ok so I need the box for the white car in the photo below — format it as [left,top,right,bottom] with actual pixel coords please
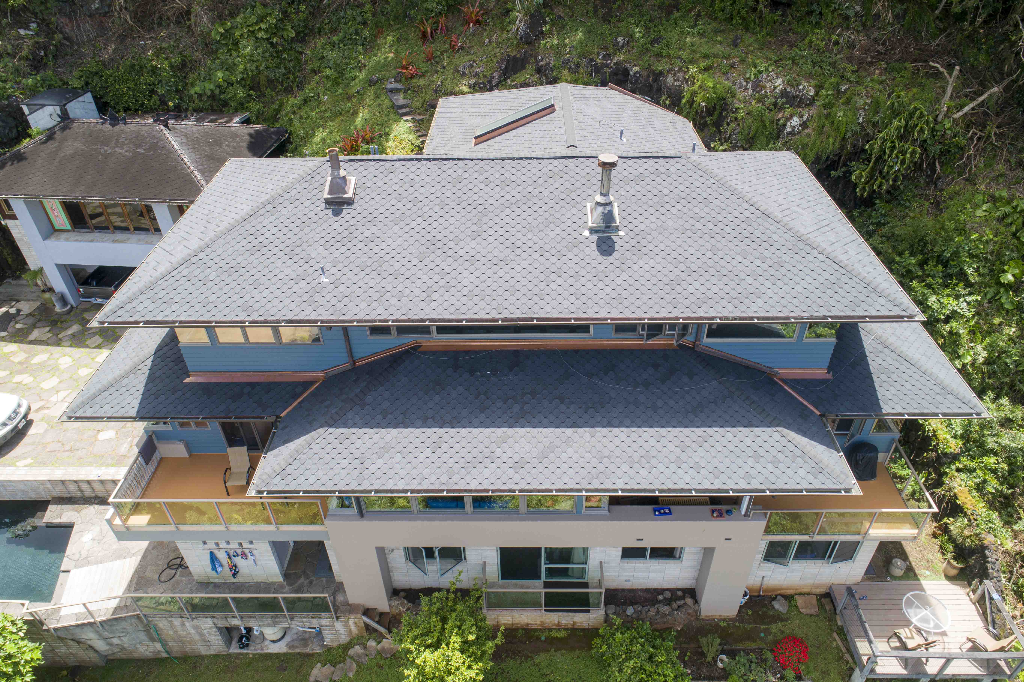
[0,388,42,447]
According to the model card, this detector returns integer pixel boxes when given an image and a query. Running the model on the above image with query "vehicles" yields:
[0,388,42,447]
[74,268,137,300]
